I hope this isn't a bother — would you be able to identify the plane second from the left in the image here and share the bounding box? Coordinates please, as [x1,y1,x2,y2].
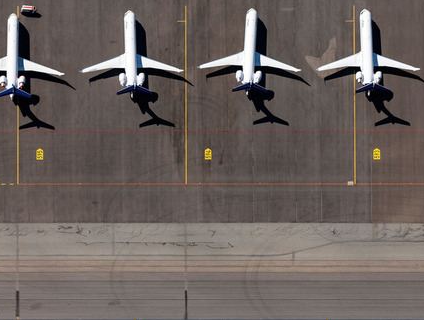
[81,10,182,96]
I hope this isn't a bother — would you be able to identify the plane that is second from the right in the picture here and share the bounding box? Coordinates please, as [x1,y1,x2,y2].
[198,8,300,94]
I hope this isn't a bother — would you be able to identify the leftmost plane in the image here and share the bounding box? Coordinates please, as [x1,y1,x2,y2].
[0,13,63,99]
